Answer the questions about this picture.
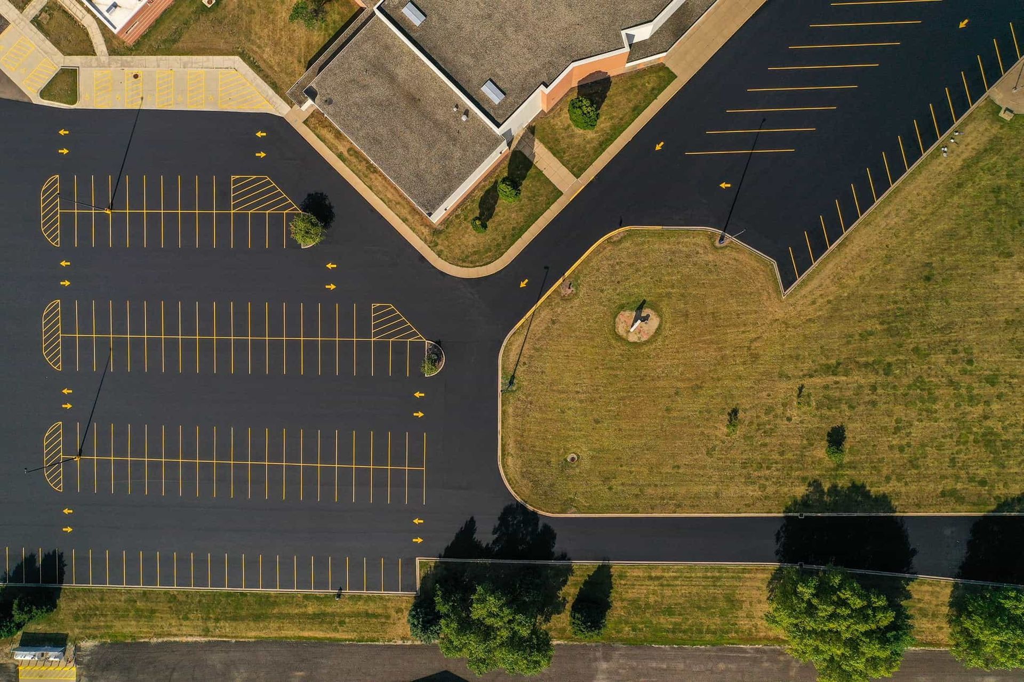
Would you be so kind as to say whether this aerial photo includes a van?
No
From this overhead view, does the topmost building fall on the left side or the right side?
left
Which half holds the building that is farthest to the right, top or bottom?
top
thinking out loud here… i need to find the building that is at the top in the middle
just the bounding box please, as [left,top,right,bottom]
[286,0,722,224]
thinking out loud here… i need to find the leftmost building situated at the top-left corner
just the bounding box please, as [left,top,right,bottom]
[82,0,172,44]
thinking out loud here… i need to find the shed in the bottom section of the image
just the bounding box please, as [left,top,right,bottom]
[11,647,64,662]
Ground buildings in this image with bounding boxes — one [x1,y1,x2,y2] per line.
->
[11,647,64,662]
[82,0,172,44]
[286,0,722,224]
